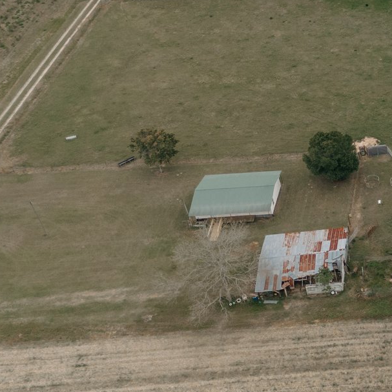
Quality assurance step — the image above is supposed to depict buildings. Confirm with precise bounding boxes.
[256,227,352,307]
[186,172,285,249]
